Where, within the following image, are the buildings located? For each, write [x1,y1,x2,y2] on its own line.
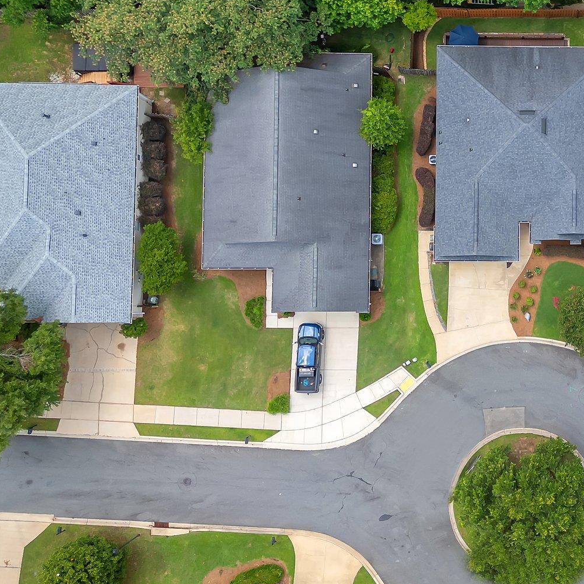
[201,53,378,313]
[0,82,155,324]
[432,45,584,262]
